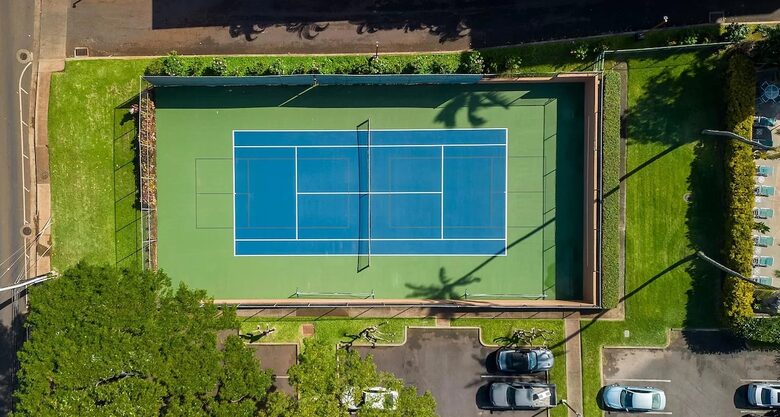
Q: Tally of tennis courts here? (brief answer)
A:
1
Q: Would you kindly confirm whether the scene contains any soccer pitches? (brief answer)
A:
No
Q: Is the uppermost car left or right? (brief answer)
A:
right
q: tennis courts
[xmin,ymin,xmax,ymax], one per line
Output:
[157,82,583,298]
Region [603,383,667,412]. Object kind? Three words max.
car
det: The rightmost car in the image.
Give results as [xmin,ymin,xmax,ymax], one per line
[744,383,780,412]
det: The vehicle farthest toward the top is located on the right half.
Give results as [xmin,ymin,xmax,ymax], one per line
[497,347,553,375]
